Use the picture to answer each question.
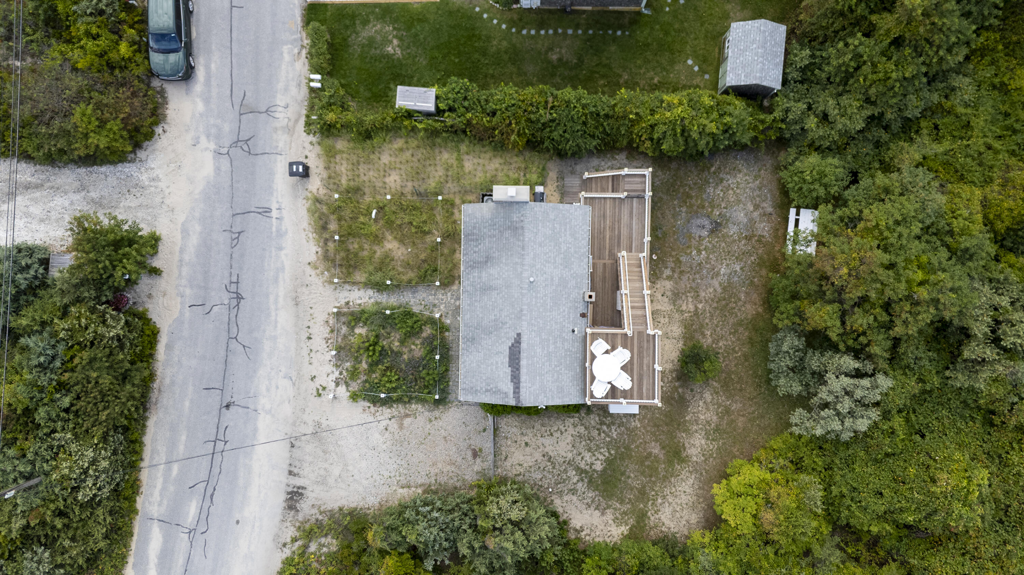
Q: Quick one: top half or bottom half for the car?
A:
top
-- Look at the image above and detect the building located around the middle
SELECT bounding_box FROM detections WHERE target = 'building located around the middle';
[456,185,595,409]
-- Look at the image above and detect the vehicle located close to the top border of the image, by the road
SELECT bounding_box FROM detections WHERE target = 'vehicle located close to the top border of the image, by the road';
[141,0,195,81]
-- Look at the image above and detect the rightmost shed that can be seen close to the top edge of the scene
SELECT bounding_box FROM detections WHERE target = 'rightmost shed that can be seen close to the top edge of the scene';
[717,19,786,98]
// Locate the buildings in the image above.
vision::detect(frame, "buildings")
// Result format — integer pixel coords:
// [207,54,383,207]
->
[717,19,786,98]
[456,185,595,409]
[518,0,647,15]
